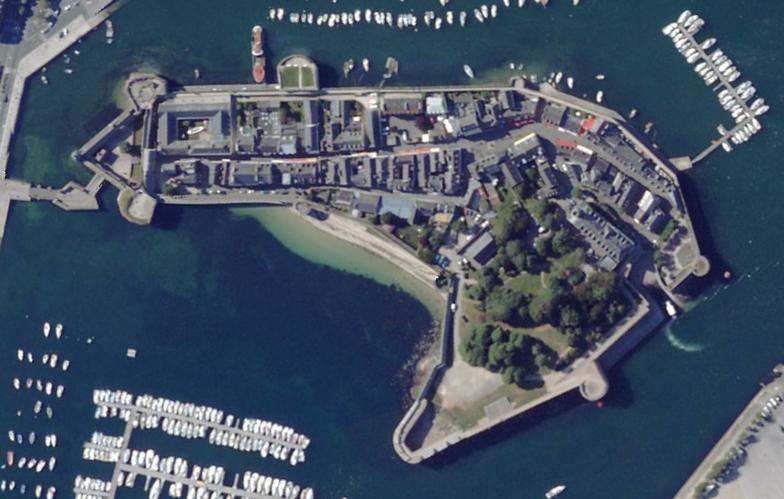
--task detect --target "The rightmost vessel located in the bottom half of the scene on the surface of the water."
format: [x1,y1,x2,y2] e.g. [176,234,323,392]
[665,300,678,318]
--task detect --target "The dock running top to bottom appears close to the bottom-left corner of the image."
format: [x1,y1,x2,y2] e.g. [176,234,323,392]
[109,413,137,499]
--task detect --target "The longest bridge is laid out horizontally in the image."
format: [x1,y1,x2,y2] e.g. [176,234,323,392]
[2,178,60,202]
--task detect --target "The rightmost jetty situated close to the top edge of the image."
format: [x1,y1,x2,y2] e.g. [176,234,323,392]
[678,22,755,119]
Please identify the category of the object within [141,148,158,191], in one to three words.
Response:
building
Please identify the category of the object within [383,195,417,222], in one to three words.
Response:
building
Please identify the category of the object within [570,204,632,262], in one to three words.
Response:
house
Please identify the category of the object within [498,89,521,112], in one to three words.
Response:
house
